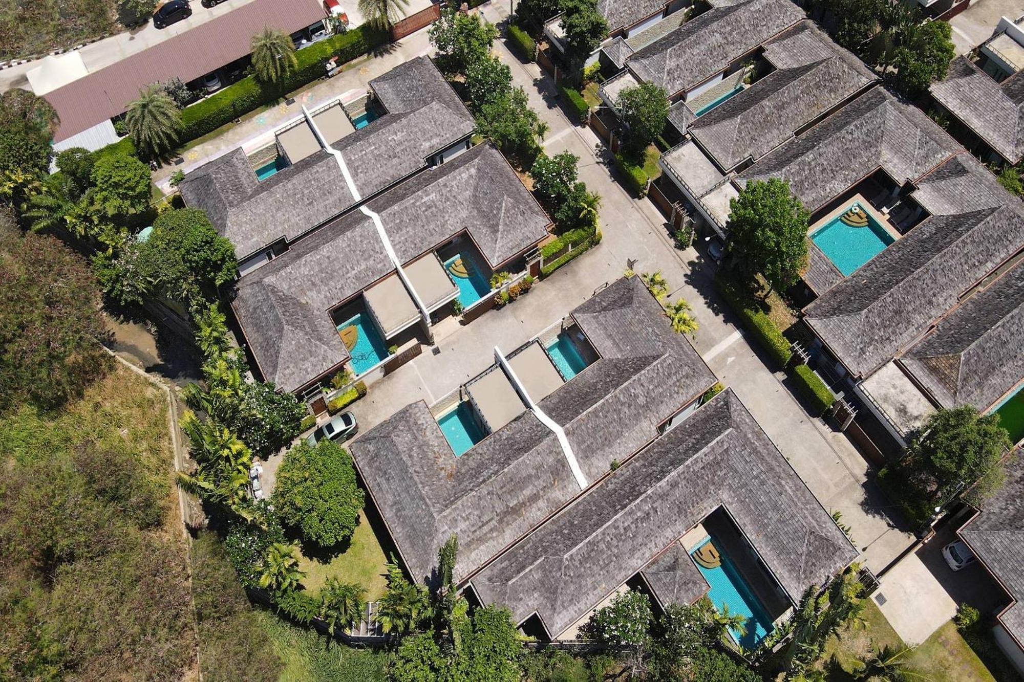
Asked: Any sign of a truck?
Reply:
No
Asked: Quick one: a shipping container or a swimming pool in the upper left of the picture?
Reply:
swimming pool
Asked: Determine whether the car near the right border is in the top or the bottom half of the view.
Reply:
bottom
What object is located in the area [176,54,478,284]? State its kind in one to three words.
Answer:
house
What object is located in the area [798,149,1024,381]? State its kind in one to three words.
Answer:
house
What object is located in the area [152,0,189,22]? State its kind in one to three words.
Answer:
car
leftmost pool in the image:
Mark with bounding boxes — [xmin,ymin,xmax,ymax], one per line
[253,151,290,179]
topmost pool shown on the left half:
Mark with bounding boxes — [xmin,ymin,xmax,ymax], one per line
[352,103,384,129]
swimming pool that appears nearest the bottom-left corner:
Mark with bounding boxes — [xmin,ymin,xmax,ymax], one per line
[336,310,392,377]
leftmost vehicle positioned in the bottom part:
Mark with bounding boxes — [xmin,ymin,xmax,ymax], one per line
[302,411,359,450]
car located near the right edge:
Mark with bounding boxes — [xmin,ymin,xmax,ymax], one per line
[938,541,976,575]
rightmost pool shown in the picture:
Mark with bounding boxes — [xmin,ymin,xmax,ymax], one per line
[981,381,1024,449]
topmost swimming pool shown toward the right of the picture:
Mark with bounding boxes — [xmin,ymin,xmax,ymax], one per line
[697,79,753,119]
